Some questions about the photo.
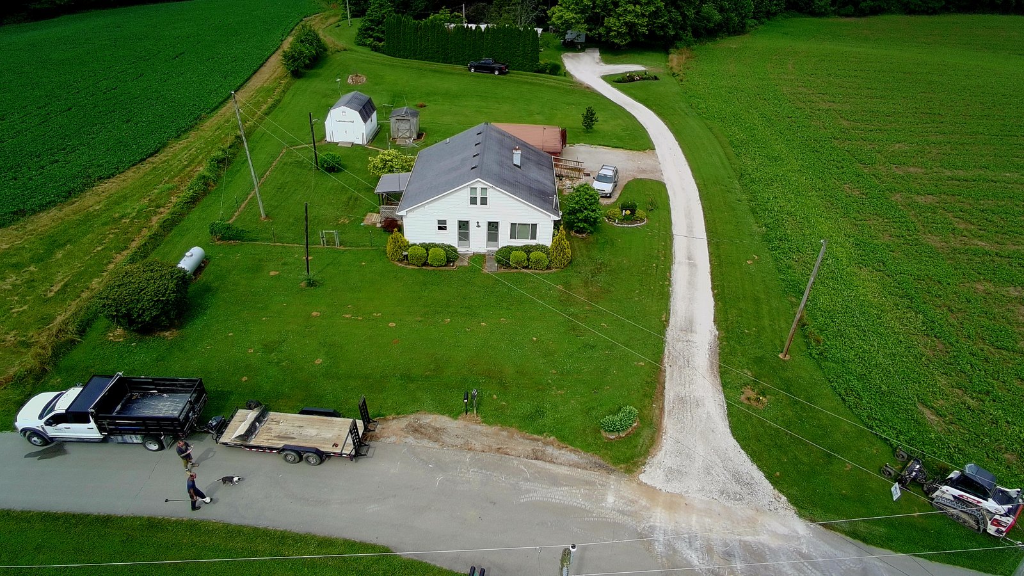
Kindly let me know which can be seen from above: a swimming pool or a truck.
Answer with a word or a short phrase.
truck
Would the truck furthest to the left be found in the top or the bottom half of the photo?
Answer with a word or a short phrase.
bottom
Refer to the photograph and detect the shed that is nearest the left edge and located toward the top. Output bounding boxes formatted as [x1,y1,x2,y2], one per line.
[322,95,376,146]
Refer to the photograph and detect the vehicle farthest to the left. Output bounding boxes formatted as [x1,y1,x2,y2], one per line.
[11,369,211,447]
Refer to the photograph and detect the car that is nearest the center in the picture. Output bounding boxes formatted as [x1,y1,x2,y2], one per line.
[590,165,621,198]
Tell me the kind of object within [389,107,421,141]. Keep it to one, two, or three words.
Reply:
shed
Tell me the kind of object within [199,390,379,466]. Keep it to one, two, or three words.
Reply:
trailer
